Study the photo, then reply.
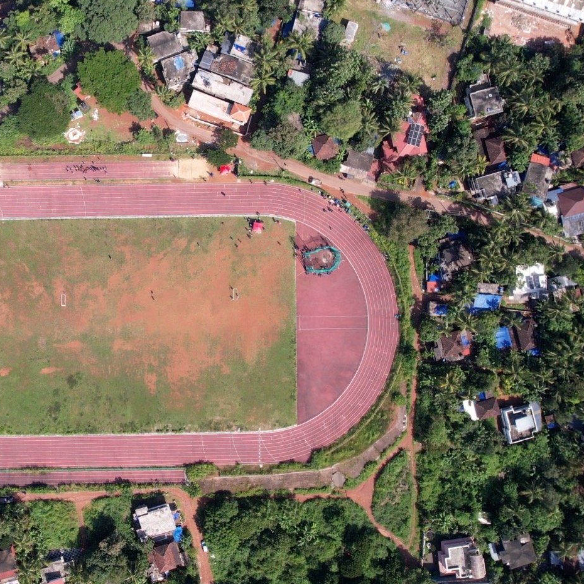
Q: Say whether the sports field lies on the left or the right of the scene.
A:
left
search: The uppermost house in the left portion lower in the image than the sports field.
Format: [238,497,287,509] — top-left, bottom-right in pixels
[137,499,177,543]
